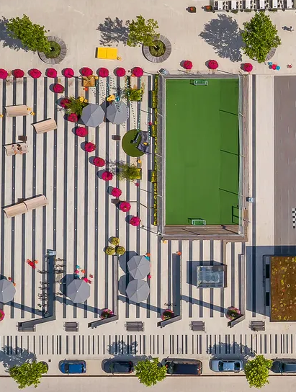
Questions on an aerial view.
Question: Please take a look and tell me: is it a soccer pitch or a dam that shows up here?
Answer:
soccer pitch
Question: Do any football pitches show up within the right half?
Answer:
Yes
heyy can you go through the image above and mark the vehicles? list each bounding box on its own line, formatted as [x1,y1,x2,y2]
[59,361,87,376]
[272,359,296,376]
[102,359,135,376]
[164,359,202,377]
[211,359,244,376]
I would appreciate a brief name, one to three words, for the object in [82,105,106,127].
umbrella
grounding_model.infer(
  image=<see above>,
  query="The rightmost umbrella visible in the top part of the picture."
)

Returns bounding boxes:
[107,101,130,124]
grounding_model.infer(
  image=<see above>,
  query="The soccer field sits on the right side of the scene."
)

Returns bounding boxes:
[153,69,248,240]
